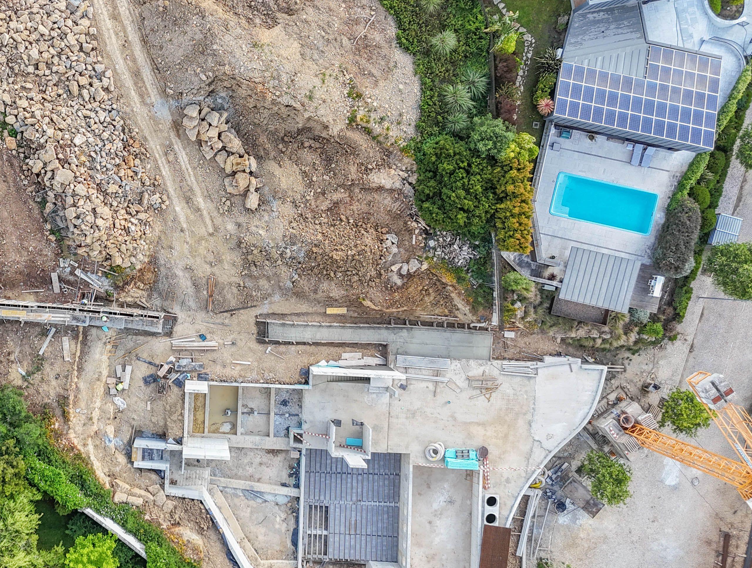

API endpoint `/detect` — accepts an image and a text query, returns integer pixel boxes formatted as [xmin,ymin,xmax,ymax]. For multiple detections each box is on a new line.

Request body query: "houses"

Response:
[545,0,752,152]
[132,357,607,568]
